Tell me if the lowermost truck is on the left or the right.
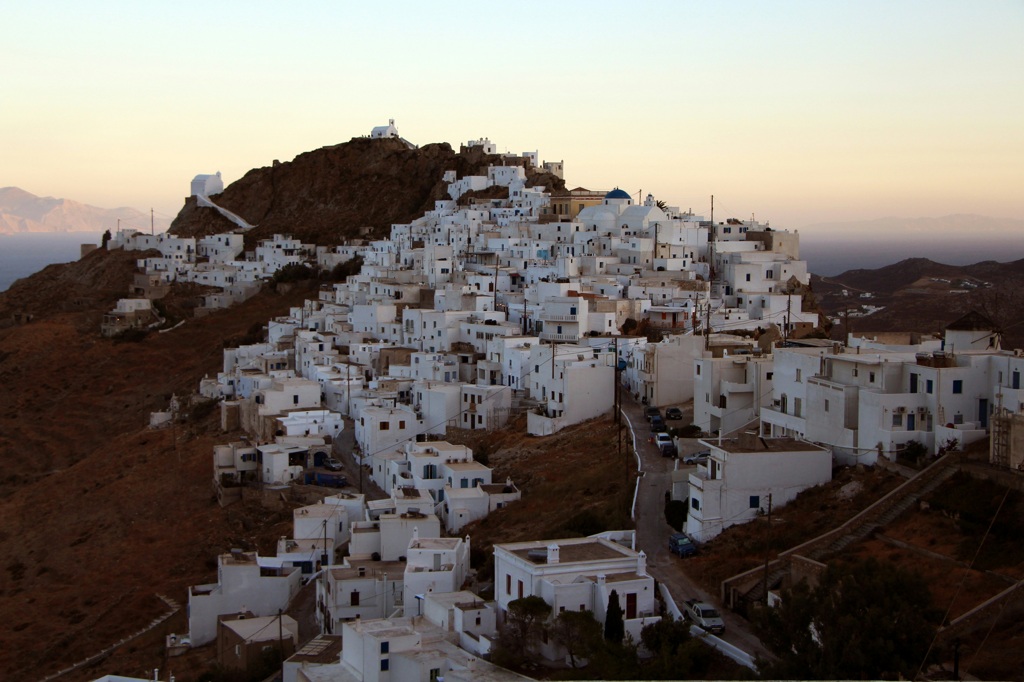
right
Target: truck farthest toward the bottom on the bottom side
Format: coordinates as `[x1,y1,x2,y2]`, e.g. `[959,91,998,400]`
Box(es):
[672,595,731,636]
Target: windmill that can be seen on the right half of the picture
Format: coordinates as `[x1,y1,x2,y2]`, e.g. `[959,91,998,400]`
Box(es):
[943,302,1014,349]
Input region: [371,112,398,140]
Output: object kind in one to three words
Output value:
building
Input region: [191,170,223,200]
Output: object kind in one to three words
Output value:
building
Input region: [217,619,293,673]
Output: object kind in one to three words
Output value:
house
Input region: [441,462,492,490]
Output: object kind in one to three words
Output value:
house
